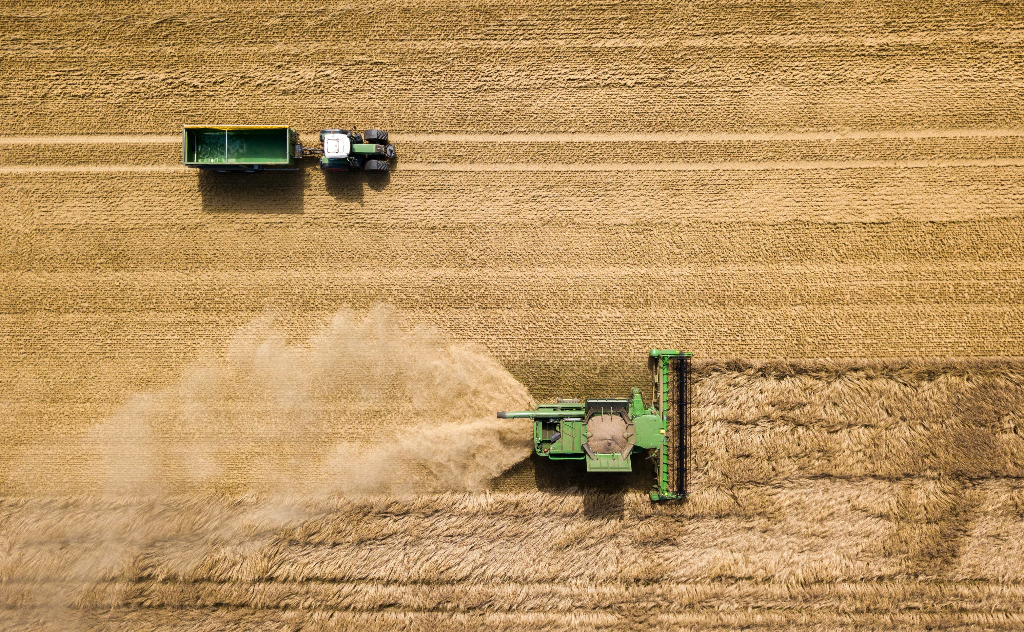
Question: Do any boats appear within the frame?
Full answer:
No, there appears to be no boat in this shot.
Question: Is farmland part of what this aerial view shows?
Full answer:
Yes, some farmland is visible.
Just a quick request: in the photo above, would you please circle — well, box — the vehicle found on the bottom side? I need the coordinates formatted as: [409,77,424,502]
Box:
[497,349,693,500]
